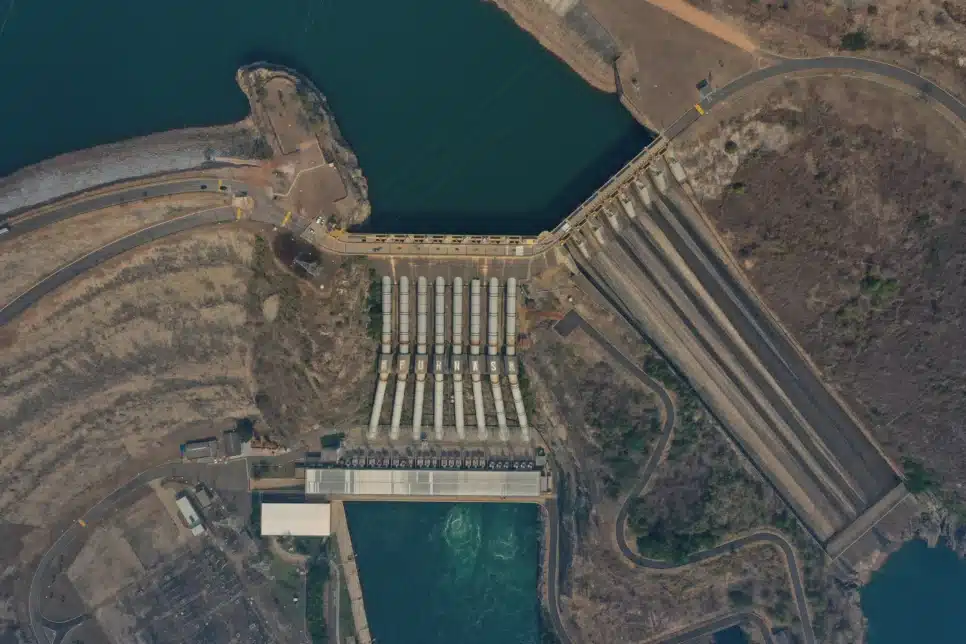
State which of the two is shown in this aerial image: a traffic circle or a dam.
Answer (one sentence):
Of the two, only a dam appears.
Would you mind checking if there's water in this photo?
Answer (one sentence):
Yes, some water is visible.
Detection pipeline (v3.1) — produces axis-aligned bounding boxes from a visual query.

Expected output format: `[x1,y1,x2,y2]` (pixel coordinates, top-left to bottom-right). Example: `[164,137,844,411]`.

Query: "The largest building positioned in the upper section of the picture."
[232,195,254,211]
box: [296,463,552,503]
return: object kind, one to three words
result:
building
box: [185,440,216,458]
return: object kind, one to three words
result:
building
